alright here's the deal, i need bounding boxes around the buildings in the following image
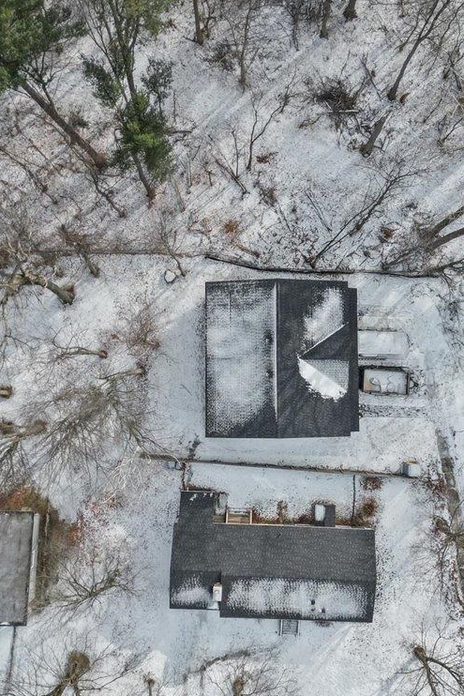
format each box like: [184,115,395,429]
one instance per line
[0,509,41,628]
[206,279,358,438]
[169,489,378,633]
